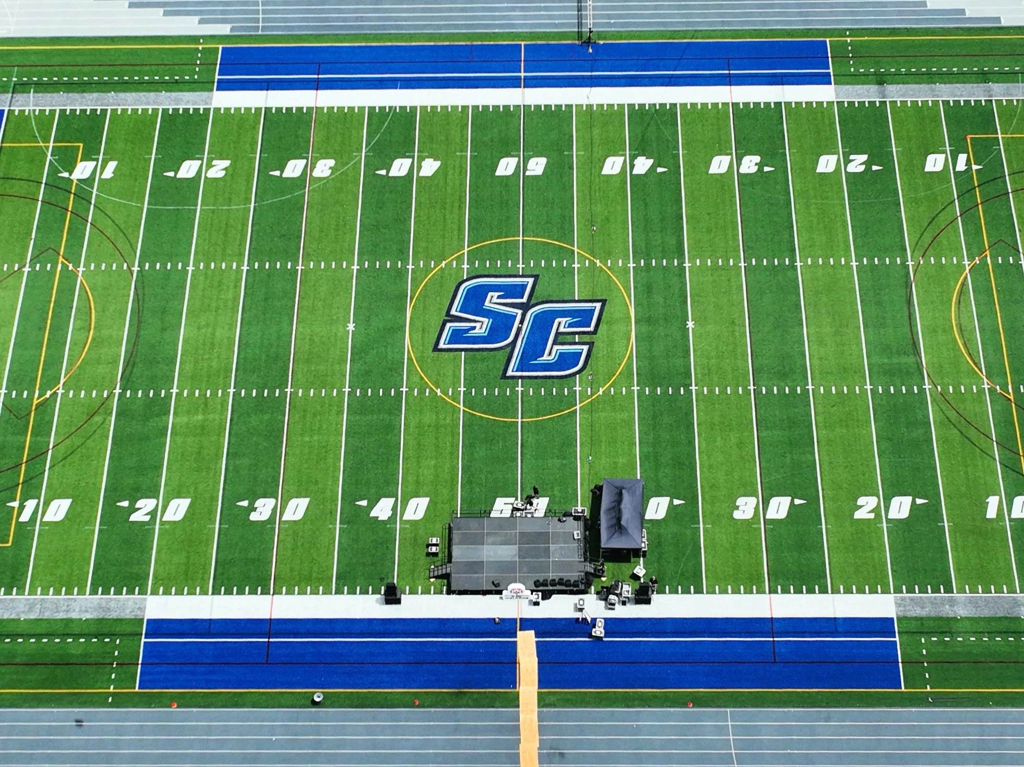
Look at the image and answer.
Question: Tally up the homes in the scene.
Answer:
zero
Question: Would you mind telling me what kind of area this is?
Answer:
sports ground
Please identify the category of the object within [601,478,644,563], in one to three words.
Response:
tent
